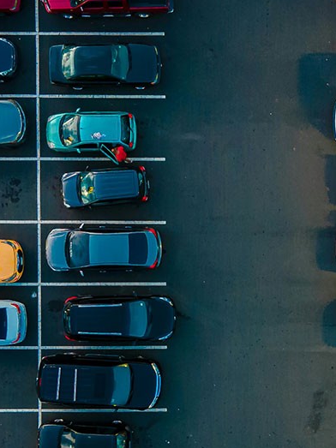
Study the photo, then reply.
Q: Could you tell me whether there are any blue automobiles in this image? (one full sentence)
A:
Yes, a blue automobile appears in the view.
